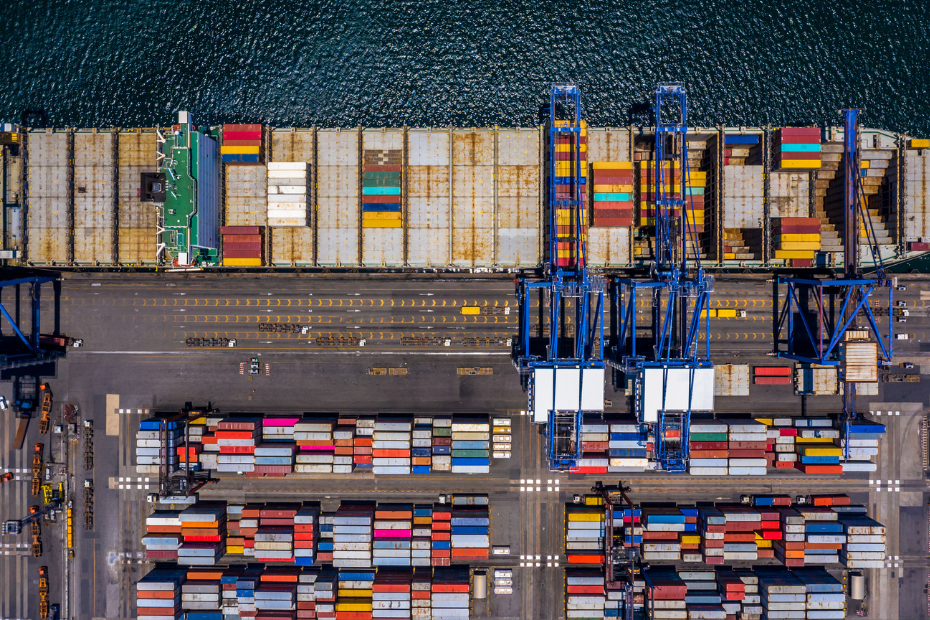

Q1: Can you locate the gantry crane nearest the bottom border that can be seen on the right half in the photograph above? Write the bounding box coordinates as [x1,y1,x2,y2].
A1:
[619,560,655,620]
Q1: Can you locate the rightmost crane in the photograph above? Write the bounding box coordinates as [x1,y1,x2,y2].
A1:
[760,103,901,462]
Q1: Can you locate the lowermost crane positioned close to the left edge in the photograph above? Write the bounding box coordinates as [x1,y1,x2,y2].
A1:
[3,482,65,535]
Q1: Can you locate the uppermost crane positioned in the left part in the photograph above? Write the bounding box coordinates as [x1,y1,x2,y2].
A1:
[0,279,66,367]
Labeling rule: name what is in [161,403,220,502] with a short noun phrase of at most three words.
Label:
container crane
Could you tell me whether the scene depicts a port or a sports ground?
port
